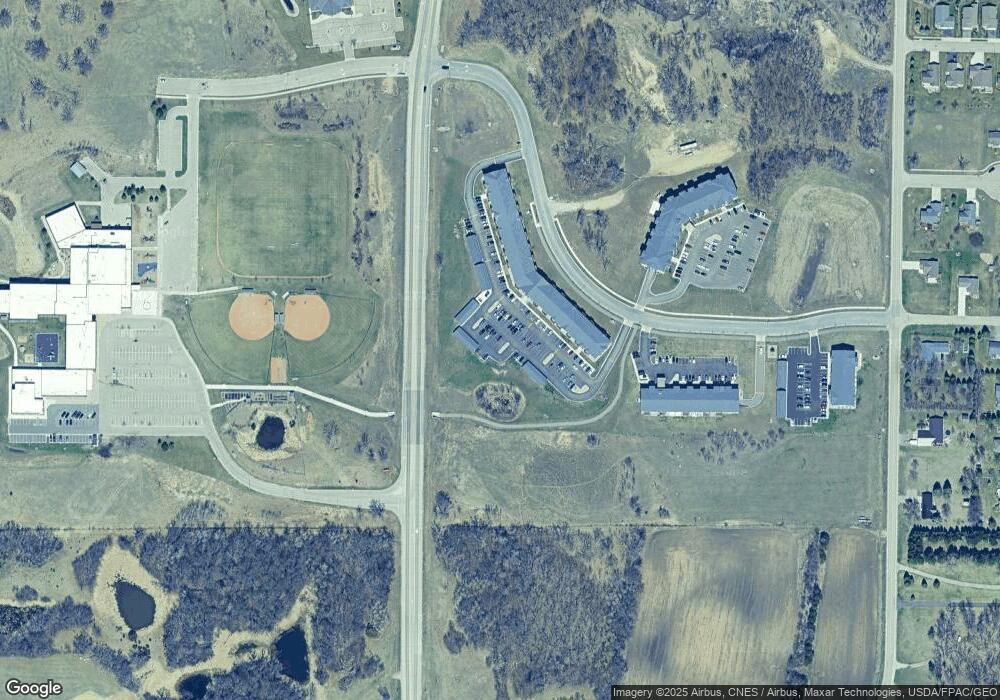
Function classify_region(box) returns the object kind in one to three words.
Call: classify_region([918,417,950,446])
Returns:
house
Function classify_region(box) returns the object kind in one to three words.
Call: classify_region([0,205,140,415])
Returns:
building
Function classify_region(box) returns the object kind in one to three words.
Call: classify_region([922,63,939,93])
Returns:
house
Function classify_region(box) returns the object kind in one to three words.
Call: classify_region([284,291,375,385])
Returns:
baseball field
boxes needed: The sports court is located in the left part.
[35,332,59,363]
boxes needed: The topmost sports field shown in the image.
[218,140,349,275]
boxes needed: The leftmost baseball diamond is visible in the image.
[187,291,275,385]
